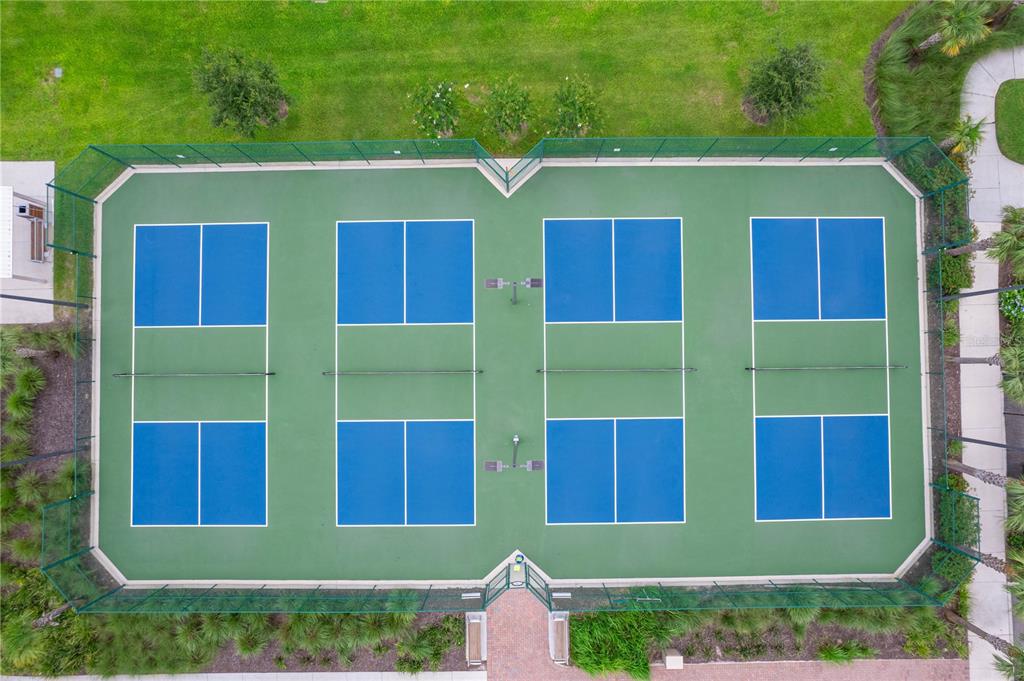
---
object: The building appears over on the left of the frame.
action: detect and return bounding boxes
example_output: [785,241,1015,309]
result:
[0,187,50,284]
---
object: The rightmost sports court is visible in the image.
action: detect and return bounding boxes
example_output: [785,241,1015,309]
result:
[750,217,892,521]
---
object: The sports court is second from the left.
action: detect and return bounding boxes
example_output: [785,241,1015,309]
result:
[336,220,476,527]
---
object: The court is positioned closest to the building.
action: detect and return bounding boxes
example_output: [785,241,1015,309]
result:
[132,223,268,527]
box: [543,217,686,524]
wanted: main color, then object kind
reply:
blue sports court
